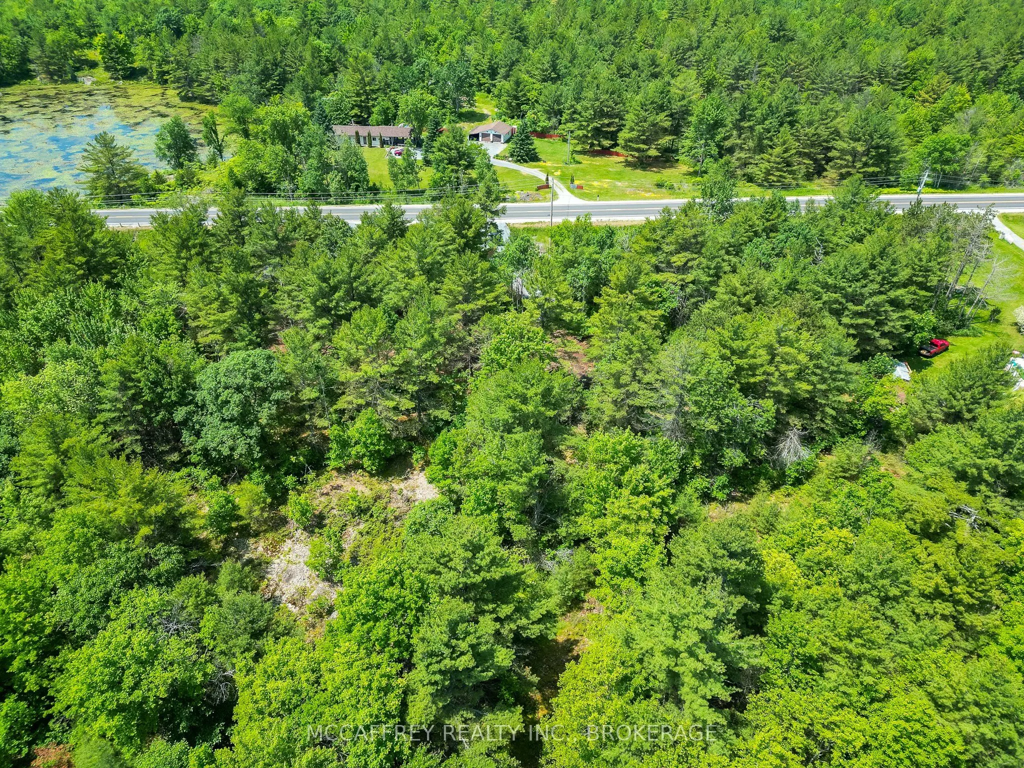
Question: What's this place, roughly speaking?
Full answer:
What you see here is a forest.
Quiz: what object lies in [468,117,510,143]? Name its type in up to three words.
building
